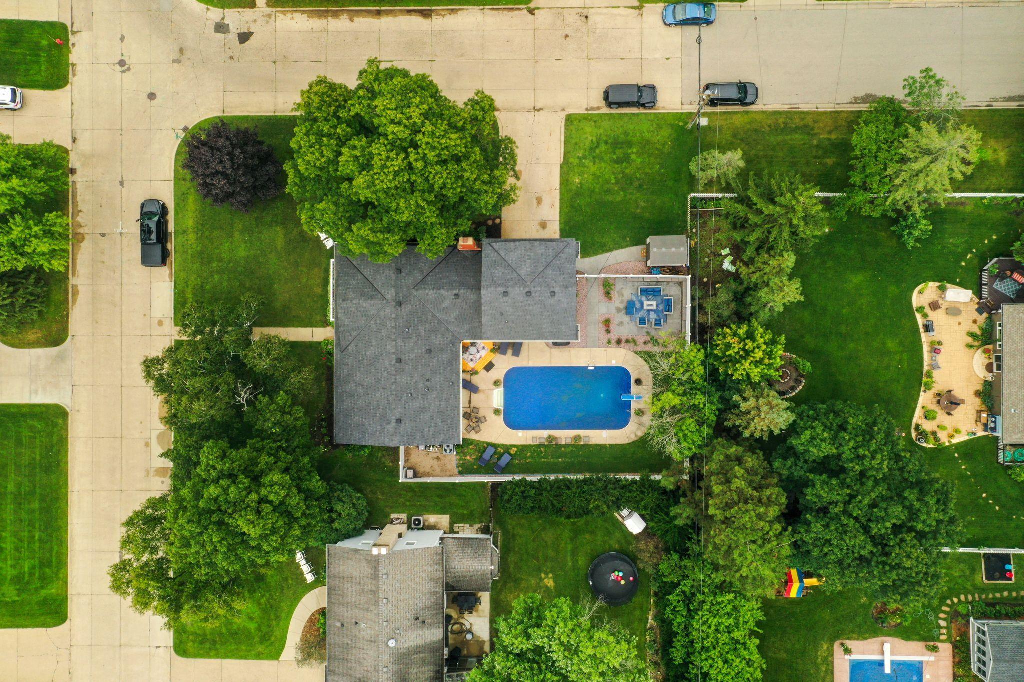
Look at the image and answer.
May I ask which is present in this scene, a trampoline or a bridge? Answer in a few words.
trampoline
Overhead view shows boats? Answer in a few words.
No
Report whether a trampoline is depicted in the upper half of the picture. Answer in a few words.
No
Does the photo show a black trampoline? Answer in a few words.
Yes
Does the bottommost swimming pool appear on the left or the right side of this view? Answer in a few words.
right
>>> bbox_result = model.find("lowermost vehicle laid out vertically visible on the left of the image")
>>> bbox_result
[139,198,170,269]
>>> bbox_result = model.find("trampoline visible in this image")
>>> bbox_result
[589,553,643,613]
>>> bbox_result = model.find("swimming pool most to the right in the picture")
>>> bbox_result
[850,660,925,682]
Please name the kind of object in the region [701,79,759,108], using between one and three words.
car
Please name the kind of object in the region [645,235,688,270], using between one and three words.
shed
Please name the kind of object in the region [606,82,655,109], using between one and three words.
car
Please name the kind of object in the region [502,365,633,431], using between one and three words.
swimming pool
